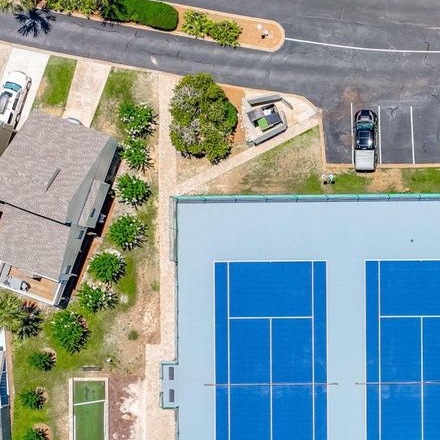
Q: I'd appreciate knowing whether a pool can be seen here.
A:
No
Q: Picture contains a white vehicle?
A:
Yes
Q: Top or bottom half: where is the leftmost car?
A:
top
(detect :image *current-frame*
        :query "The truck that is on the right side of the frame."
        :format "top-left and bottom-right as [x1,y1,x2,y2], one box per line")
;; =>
[351,111,379,175]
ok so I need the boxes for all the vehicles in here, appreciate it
[0,73,32,126]
[351,111,379,175]
[64,117,85,130]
